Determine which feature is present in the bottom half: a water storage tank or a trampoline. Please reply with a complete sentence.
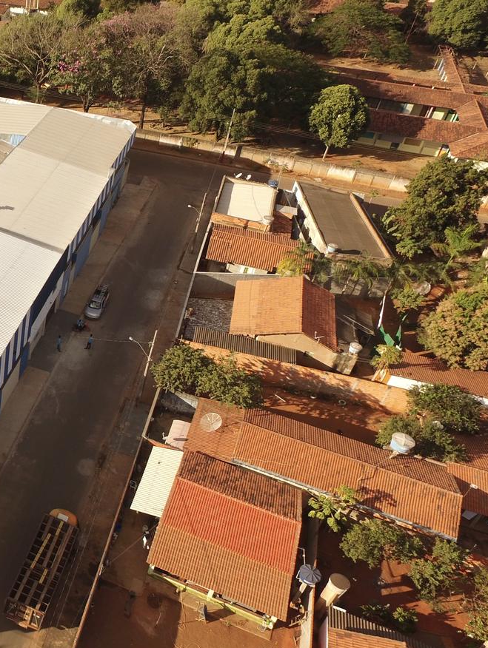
There is a water storage tank in the bottom half.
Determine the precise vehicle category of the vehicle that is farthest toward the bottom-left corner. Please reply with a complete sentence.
I'd say the vehicle that is farthest toward the bottom-left corner is a bus.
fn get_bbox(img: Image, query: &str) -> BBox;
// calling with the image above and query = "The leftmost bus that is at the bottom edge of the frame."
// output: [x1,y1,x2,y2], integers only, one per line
[3,511,81,636]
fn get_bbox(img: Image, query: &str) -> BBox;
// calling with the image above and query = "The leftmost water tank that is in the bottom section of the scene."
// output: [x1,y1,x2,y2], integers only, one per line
[287,563,328,612]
